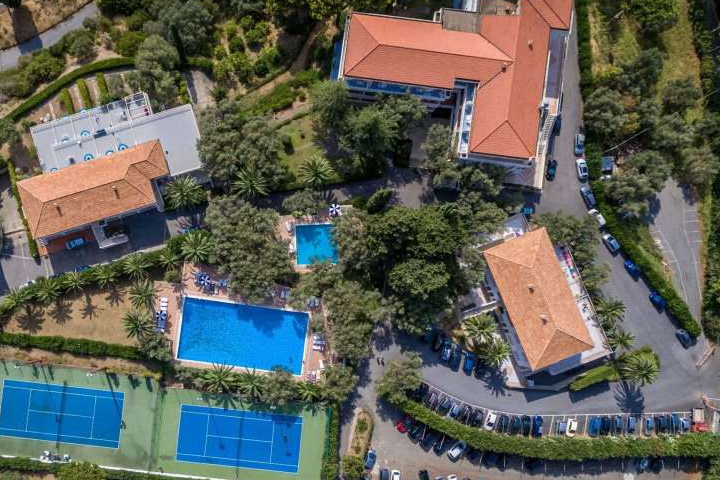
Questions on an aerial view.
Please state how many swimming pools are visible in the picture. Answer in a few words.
2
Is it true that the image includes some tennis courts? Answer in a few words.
Yes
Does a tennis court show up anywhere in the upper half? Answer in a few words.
No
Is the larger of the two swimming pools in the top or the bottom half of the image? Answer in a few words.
bottom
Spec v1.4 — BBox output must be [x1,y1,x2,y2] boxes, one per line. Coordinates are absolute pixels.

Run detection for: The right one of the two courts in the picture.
[148,380,330,480]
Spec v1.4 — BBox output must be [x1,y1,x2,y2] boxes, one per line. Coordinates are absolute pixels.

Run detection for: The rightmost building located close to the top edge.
[329,0,575,192]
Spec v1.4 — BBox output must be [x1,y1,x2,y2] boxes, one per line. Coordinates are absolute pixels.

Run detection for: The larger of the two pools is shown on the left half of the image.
[154,260,332,384]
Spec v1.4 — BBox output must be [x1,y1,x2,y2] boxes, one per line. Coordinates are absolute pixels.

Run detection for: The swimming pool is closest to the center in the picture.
[278,204,357,280]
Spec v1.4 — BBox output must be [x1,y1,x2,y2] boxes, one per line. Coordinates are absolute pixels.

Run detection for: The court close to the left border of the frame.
[0,361,157,472]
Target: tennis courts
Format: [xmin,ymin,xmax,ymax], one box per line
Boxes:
[0,361,157,472]
[148,380,330,480]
